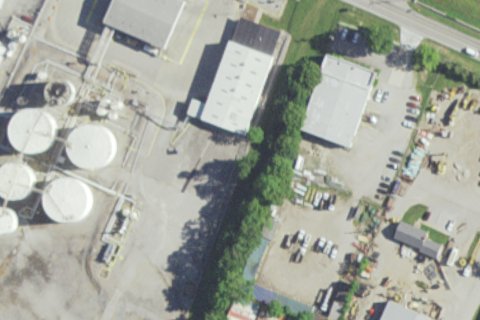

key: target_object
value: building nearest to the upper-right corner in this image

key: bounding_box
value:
[300,56,376,147]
